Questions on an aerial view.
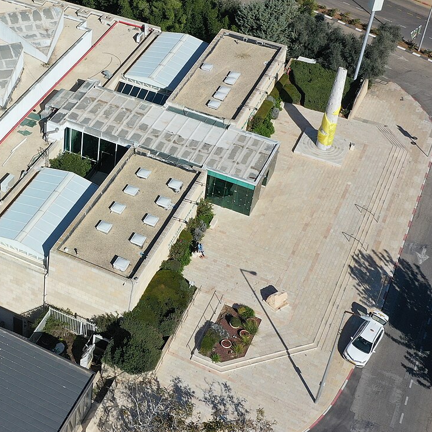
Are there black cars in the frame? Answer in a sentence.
No, no black car can be seen from above.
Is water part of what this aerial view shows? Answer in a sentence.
No, the scene doesn't show any water.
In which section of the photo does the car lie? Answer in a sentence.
Look in the bottom right portion of the view to spot the car.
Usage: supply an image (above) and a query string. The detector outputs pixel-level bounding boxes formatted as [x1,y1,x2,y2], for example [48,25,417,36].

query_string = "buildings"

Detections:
[0,326,95,432]
[0,0,293,339]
